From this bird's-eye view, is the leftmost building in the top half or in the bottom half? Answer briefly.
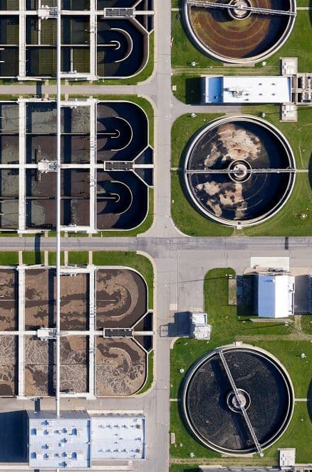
bottom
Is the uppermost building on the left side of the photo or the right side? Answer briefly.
right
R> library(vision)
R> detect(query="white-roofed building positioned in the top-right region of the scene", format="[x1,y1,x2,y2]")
[201,75,292,105]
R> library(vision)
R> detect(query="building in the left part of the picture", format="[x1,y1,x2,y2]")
[25,409,146,468]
